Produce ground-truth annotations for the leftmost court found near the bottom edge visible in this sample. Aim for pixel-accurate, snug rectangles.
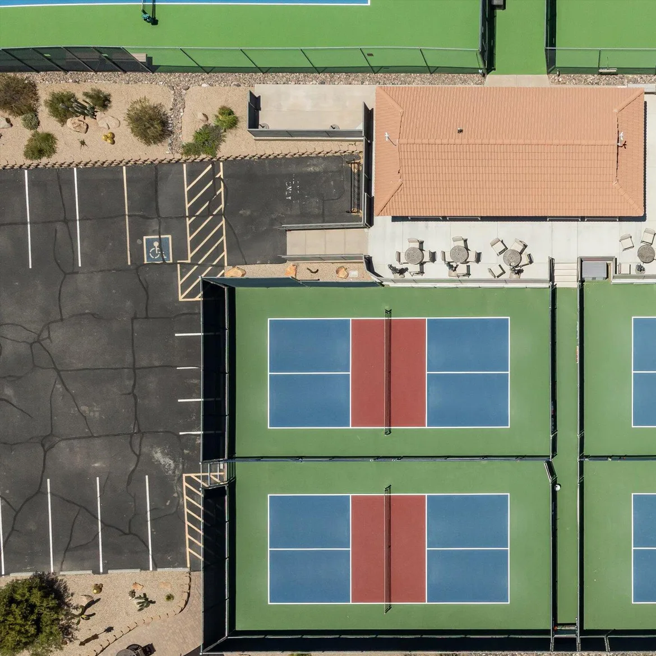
[227,461,553,635]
